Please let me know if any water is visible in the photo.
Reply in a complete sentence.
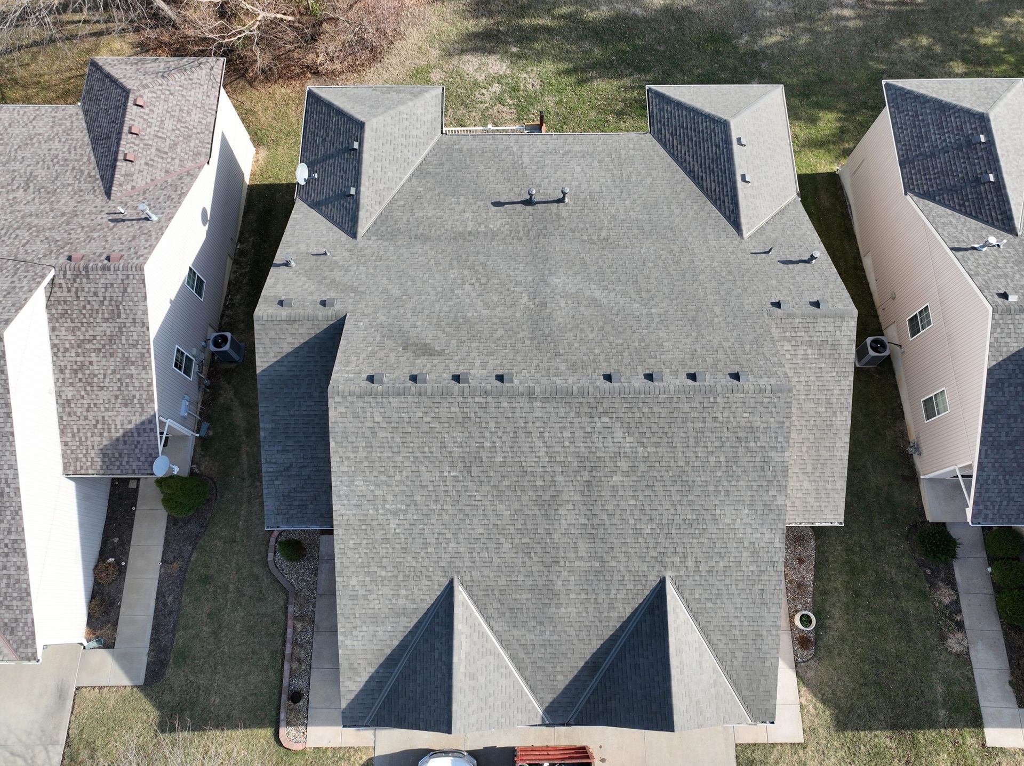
No, the picture contains no water.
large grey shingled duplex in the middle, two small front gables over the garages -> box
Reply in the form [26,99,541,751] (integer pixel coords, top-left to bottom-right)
[253,82,858,735]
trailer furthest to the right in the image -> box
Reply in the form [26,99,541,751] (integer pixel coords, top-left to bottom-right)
[516,745,592,766]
